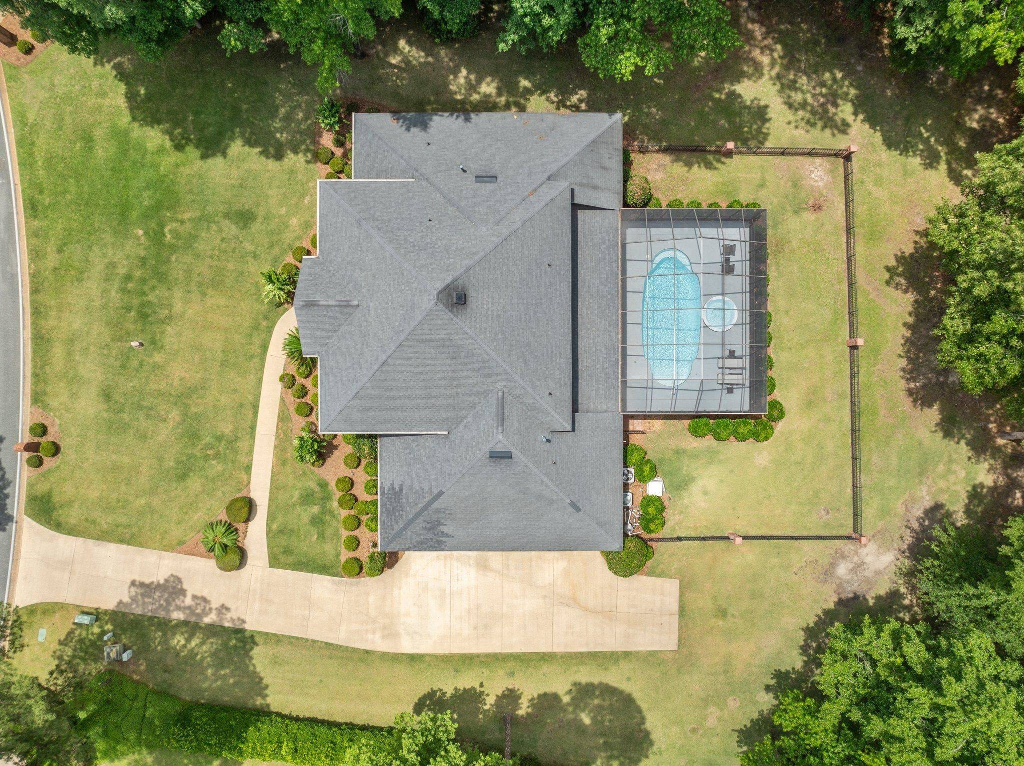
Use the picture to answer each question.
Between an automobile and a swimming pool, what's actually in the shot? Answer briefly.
swimming pool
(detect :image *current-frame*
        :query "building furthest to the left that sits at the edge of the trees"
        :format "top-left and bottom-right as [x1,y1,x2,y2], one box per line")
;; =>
[294,111,624,553]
